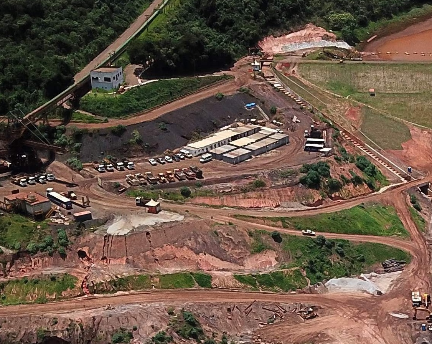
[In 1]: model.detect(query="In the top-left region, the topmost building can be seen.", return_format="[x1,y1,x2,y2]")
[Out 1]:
[87,67,123,90]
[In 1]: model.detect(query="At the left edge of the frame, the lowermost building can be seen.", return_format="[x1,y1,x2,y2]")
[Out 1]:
[5,192,57,213]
